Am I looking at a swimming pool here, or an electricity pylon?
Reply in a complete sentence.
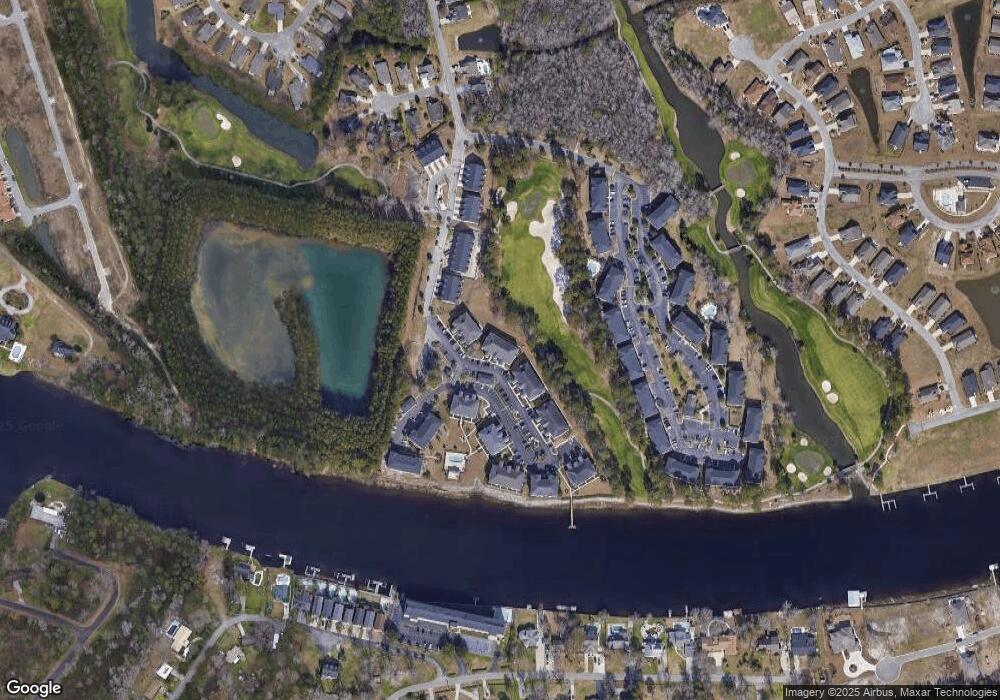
The one in the frame is a swimming pool.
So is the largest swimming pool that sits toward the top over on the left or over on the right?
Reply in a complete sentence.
You can find the largest swimming pool that sits toward the top on the right side of the picture.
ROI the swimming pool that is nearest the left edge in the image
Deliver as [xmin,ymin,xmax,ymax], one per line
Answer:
[9,343,24,361]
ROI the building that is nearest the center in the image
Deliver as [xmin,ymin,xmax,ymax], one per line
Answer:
[480,332,520,367]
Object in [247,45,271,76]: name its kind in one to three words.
house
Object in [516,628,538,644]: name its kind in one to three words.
house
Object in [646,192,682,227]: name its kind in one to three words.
building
